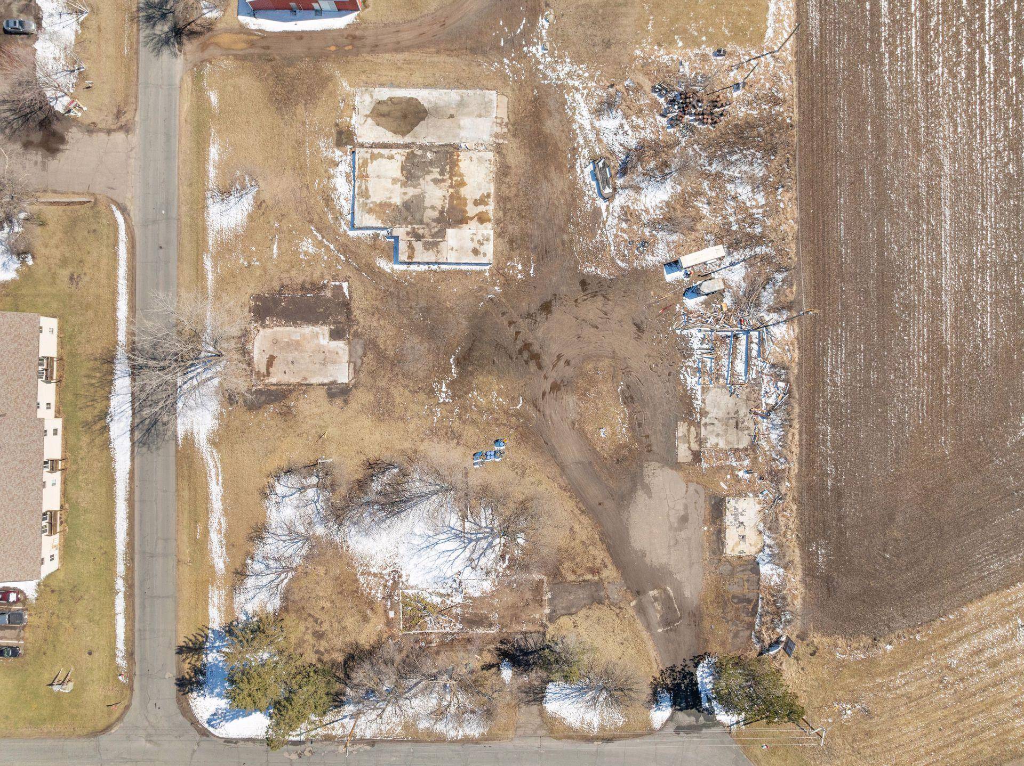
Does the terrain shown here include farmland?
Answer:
Yes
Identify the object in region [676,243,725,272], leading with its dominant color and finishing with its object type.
white trailer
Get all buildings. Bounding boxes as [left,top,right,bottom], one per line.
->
[0,310,69,585]
[244,0,361,17]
